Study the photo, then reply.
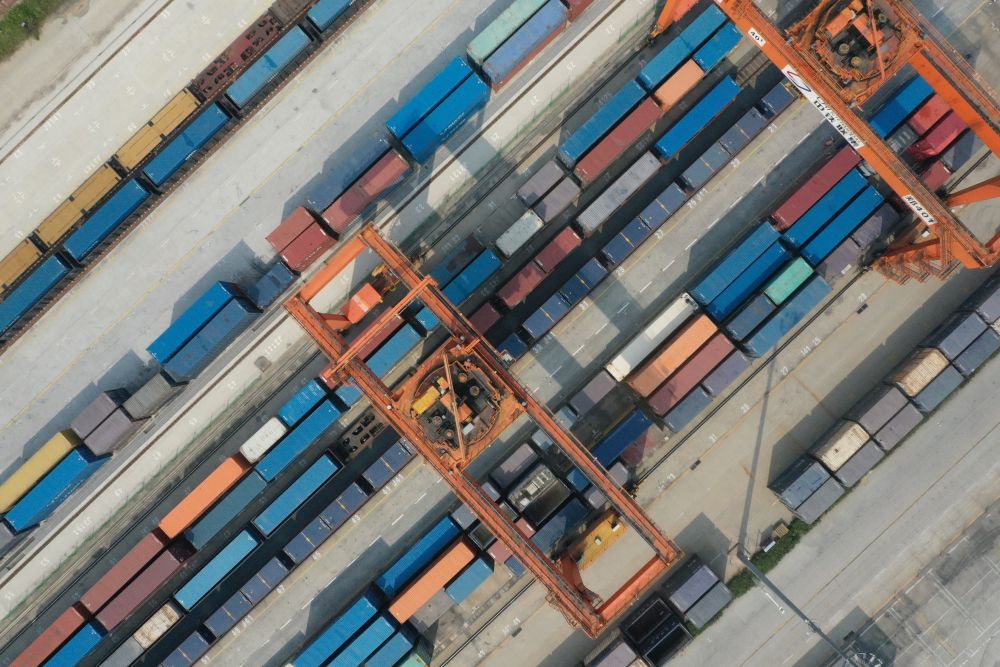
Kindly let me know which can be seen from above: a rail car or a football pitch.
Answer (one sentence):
The one in the frame is a rail car.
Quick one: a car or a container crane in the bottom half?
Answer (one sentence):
The one visible in the bottom half is a container crane.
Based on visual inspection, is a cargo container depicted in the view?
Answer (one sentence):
Yes, the image includes a cargo container.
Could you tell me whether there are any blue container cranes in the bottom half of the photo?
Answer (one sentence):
No, no blue container crane appears in the bottom half of the photo.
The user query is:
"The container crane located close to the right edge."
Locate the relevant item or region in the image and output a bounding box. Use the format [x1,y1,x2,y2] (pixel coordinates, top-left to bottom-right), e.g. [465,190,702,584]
[636,0,1000,304]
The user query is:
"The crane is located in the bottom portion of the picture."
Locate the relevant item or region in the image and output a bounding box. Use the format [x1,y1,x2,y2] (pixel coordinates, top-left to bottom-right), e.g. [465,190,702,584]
[277,213,692,656]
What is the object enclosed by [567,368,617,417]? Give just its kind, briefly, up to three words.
shipping container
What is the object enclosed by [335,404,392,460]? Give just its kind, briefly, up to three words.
rail car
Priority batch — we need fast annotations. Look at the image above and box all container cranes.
[636,0,1000,304]
[277,213,692,656]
